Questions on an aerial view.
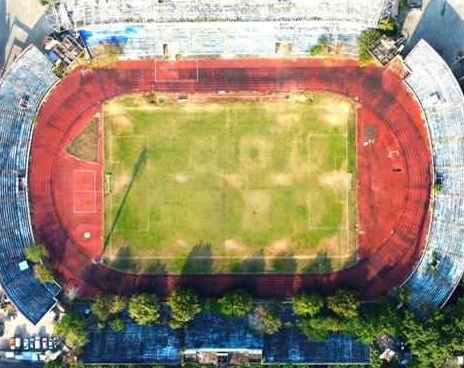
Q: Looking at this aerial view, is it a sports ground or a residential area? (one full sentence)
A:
What you see here is a sports ground.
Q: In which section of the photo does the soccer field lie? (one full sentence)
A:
The soccer field sits in the center section of the image.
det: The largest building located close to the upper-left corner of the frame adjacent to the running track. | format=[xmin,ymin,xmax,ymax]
[54,34,89,64]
